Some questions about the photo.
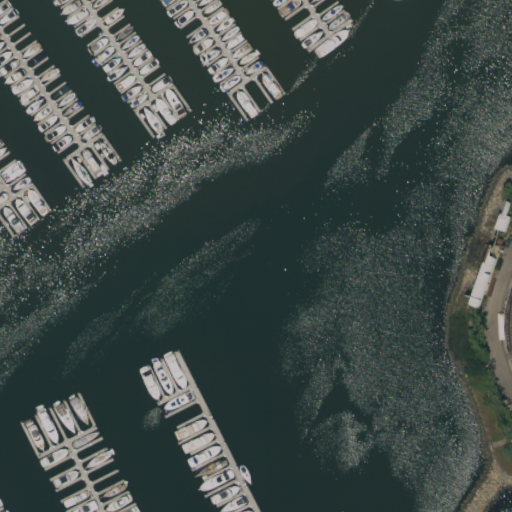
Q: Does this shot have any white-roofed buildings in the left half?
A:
No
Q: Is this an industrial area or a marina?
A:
marina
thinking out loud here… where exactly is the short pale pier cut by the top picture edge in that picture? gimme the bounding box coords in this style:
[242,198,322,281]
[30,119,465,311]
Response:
[282,0,351,52]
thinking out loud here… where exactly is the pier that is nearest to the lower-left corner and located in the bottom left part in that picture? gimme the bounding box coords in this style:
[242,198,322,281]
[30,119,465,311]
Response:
[21,394,136,512]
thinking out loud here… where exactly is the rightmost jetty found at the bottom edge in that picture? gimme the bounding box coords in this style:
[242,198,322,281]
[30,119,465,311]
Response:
[154,351,260,512]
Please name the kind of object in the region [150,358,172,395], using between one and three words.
boat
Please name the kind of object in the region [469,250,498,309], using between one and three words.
building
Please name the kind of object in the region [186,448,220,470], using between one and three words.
boat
